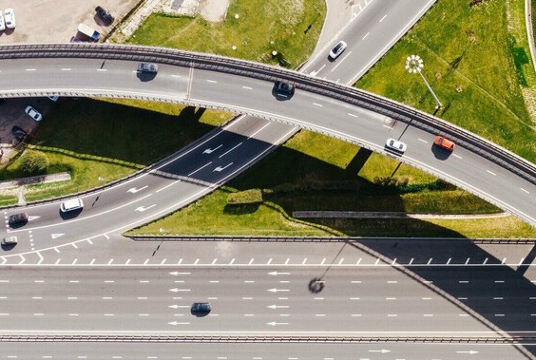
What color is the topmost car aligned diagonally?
black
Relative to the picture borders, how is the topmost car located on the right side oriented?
at an angle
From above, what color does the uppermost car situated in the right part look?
white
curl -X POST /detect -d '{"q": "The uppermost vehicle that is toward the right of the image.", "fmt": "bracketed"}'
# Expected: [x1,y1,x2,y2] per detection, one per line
[327,40,347,61]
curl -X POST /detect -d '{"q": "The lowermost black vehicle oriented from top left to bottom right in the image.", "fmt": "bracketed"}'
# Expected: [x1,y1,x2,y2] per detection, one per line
[9,126,30,143]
